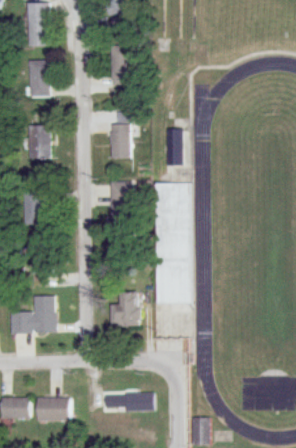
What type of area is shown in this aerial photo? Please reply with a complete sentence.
It's a sports ground.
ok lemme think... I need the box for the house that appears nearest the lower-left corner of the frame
[0,397,31,426]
